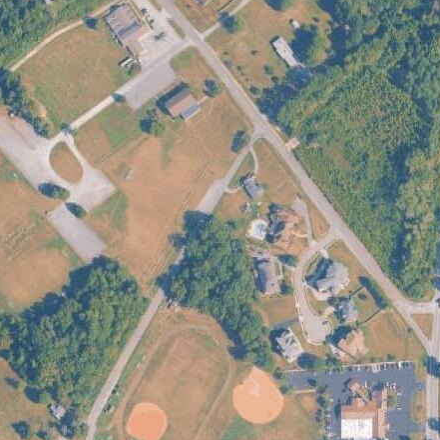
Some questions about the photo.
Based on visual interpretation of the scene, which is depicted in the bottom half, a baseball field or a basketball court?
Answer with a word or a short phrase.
baseball field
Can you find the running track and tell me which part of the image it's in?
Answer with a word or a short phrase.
bottom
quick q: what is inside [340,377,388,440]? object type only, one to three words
building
